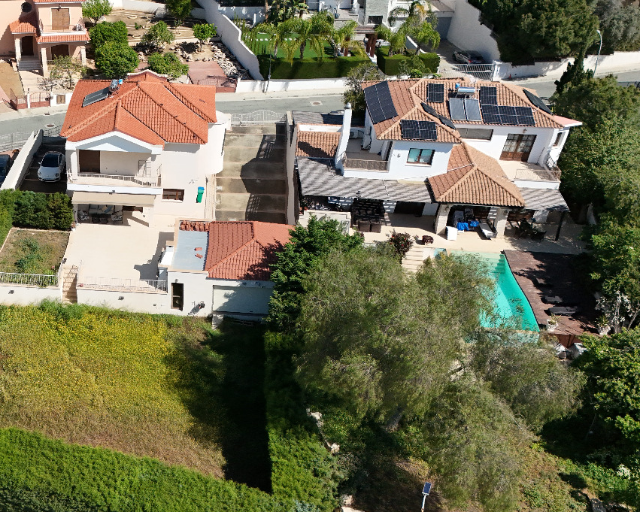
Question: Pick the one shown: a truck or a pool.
pool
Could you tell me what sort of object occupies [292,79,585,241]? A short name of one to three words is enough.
house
